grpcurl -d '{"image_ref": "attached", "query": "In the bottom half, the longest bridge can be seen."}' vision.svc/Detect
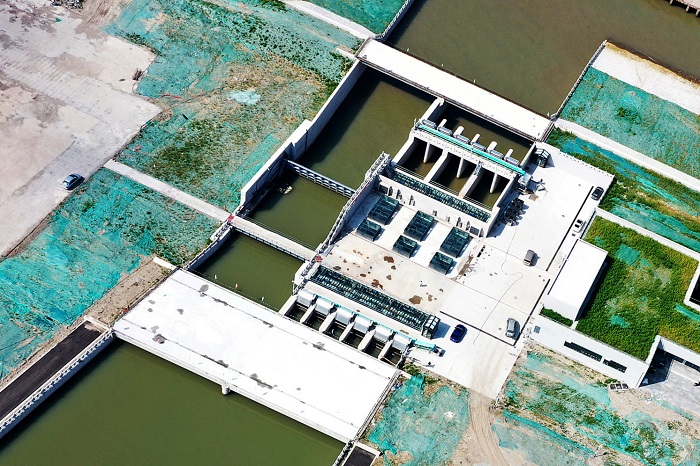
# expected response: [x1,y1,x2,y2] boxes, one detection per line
[114,269,399,444]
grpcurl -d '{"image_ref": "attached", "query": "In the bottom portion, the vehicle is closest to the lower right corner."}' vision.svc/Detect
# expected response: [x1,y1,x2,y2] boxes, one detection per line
[506,316,518,338]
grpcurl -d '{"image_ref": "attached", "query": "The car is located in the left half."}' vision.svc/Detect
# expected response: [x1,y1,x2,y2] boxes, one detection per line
[62,174,83,187]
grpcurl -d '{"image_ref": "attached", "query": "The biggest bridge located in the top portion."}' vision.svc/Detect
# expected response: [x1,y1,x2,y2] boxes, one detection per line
[358,36,553,145]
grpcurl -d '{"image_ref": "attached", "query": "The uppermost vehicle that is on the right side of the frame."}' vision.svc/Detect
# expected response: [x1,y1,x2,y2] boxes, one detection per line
[590,184,605,201]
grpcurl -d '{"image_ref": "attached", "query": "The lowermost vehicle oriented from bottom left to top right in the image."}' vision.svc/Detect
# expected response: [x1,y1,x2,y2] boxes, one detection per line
[450,323,466,342]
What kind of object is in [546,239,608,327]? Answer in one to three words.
building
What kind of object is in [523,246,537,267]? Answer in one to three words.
car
